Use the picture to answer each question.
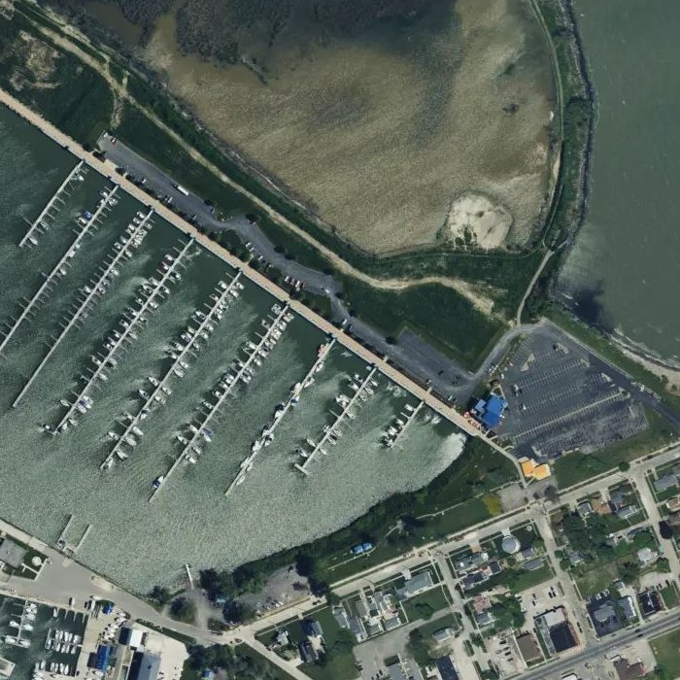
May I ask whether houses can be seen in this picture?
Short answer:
Yes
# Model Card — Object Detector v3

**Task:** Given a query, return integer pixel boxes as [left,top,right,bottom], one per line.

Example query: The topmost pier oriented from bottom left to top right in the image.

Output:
[19,159,85,246]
